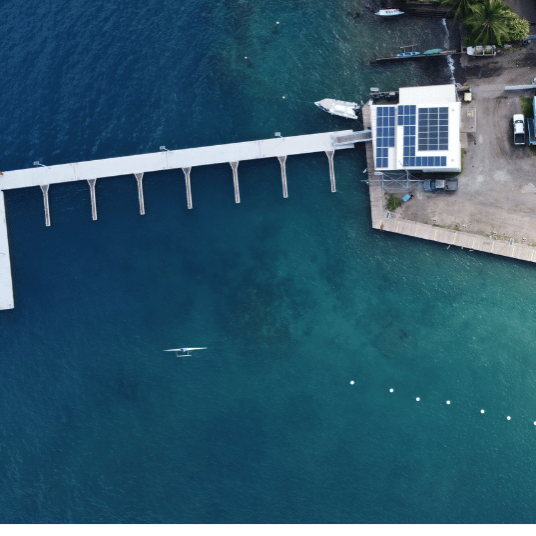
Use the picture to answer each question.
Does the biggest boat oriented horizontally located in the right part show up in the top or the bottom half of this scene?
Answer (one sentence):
You can find the biggest boat oriented horizontally located in the right part in the top half.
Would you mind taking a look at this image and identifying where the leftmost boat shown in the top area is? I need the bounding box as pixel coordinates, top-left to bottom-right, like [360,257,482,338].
[314,100,360,119]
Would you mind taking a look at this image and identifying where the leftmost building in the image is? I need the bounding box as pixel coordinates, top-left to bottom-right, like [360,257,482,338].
[372,85,462,176]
